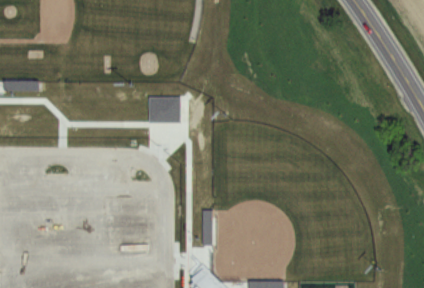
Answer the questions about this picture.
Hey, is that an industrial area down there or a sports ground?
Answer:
sports ground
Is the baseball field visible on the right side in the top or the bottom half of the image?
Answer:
bottom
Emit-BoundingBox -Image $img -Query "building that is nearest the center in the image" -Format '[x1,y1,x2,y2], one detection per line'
[149,96,181,122]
